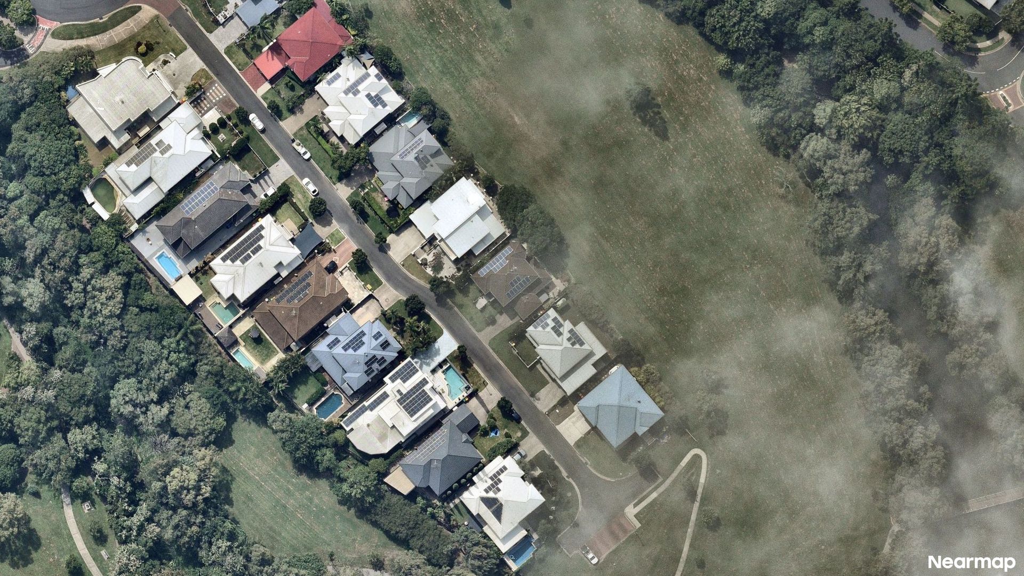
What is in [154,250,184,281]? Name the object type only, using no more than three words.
swimming pool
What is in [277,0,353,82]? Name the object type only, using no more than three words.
house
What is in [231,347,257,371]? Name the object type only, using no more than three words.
swimming pool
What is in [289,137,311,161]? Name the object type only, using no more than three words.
vehicle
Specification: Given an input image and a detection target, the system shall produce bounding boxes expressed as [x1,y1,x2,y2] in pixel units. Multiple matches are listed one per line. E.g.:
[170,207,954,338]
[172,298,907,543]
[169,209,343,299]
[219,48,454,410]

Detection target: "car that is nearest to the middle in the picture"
[508,406,525,426]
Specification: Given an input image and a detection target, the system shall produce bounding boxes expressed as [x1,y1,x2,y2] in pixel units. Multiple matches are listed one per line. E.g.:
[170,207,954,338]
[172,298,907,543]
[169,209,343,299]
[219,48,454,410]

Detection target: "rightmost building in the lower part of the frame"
[577,364,664,454]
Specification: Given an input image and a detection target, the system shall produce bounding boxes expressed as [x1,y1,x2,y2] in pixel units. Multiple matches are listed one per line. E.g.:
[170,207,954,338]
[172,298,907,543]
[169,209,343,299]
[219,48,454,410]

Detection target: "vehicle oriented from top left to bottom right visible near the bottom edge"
[578,543,601,567]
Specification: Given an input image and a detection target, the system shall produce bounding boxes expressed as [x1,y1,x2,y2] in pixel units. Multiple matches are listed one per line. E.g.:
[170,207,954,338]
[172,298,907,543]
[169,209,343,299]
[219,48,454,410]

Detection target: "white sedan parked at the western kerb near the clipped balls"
[248,111,266,133]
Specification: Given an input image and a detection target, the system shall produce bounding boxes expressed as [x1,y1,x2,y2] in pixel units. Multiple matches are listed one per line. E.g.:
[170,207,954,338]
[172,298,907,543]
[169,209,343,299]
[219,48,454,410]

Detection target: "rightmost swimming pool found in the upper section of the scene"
[397,110,423,128]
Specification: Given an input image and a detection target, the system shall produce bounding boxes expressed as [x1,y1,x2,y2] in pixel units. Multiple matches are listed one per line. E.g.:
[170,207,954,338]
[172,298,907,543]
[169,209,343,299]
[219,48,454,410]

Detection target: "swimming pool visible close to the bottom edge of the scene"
[505,534,535,568]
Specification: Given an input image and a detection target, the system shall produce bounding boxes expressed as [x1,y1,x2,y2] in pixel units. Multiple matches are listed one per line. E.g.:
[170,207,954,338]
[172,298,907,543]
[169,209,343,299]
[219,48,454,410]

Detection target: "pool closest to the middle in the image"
[443,365,465,401]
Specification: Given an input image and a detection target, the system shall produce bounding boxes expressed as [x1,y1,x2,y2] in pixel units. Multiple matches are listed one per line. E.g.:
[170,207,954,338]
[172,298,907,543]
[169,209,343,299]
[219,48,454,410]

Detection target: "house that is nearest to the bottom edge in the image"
[459,454,546,553]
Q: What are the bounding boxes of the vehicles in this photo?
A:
[578,543,601,567]
[511,446,529,463]
[508,406,525,426]
[300,176,319,198]
[324,257,339,274]
[248,111,266,133]
[258,184,278,203]
[289,137,311,161]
